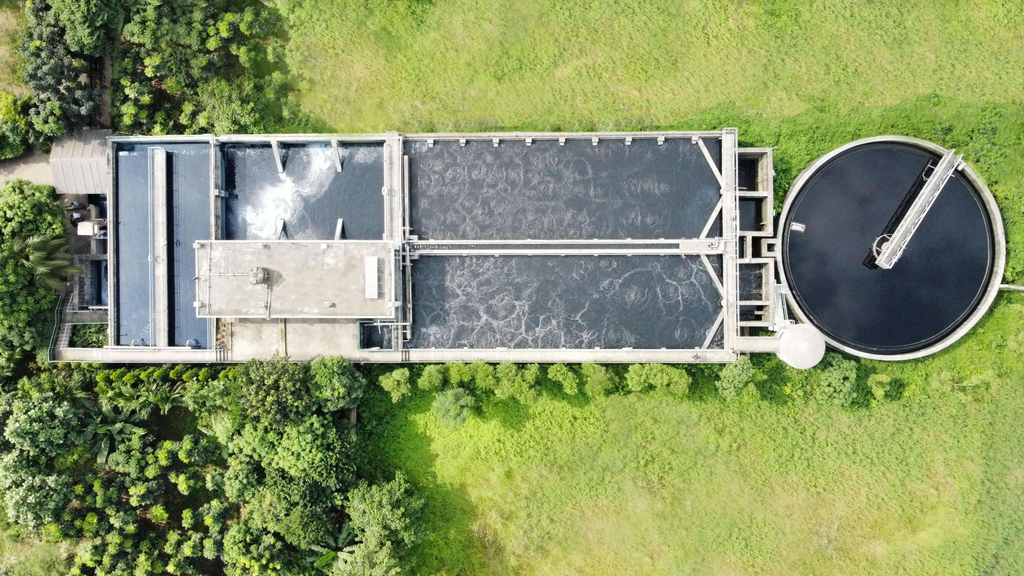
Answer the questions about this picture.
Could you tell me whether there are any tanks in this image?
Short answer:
Yes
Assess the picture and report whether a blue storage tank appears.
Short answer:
No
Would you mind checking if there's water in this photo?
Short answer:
Yes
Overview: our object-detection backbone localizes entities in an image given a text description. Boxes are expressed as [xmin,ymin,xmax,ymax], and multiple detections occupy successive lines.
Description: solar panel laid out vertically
[365,257,379,298]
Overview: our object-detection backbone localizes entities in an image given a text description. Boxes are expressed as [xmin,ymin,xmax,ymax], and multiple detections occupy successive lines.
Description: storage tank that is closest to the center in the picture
[357,319,397,351]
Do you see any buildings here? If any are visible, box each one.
[48,130,116,194]
[193,240,402,318]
